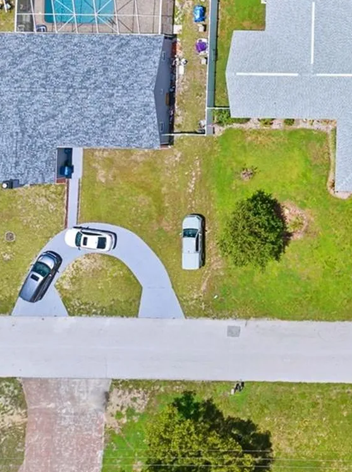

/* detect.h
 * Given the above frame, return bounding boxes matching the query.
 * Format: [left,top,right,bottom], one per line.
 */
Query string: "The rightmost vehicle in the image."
[179,213,207,269]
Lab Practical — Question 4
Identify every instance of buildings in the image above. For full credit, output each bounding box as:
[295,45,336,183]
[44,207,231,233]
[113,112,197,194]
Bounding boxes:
[0,32,174,186]
[225,0,352,192]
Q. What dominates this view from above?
grass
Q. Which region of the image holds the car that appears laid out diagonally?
left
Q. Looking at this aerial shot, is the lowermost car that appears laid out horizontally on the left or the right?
left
